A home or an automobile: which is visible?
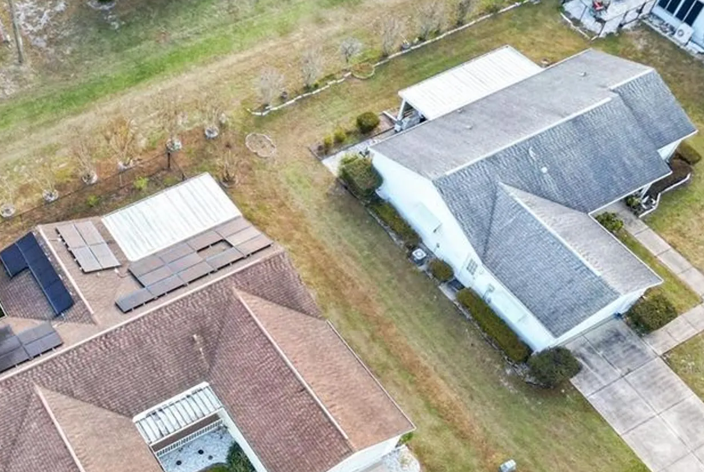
home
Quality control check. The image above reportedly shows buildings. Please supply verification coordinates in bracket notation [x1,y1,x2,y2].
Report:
[657,0,704,47]
[372,46,700,350]
[0,174,414,472]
